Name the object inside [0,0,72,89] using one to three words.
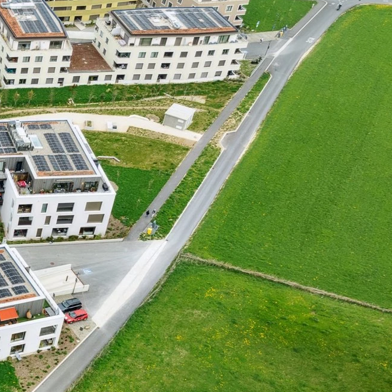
building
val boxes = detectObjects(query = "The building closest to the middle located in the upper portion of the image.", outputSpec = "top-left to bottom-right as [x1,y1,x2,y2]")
[162,103,197,131]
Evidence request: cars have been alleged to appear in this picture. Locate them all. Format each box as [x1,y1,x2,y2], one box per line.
[56,294,85,313]
[64,307,91,323]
